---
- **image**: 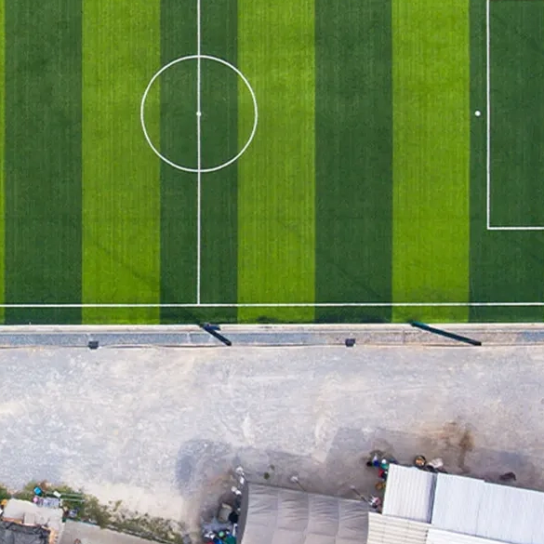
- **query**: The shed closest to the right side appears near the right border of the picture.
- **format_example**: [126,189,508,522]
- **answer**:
[477,482,544,544]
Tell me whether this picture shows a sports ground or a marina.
sports ground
